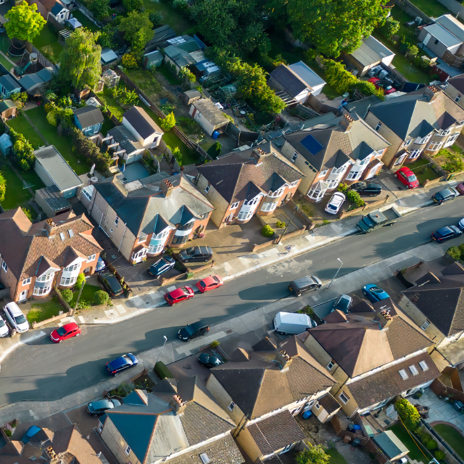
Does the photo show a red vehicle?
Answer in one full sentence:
Yes, a red vehicle appears in the view.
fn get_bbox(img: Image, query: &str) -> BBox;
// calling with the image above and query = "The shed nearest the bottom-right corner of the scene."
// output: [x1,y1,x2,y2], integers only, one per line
[365,429,409,464]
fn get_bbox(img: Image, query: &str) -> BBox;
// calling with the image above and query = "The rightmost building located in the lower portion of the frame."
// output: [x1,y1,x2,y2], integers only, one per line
[394,249,464,371]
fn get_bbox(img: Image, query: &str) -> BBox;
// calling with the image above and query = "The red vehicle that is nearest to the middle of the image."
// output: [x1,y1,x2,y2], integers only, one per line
[191,274,227,294]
